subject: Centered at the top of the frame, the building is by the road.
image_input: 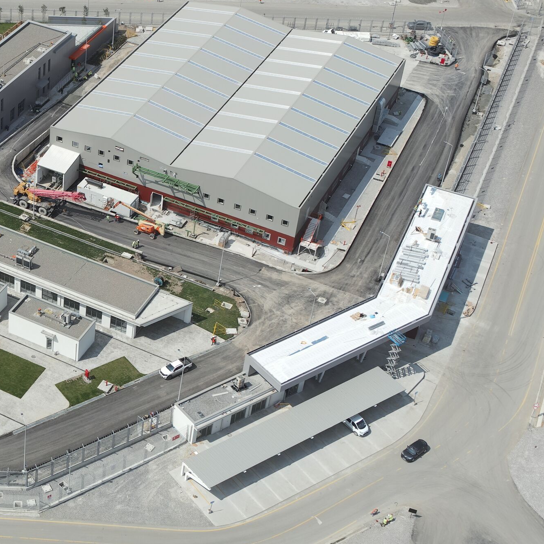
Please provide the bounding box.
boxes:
[50,0,407,251]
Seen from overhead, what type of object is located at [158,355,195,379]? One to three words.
truck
